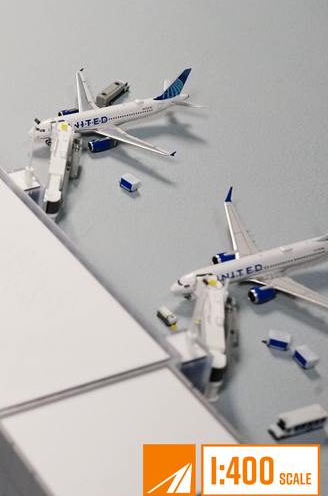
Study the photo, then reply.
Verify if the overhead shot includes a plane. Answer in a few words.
Yes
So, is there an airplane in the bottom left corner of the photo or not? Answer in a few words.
No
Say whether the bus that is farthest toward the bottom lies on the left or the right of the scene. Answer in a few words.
right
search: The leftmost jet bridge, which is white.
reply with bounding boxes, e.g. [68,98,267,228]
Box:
[43,119,82,228]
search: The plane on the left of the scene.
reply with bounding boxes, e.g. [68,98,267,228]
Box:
[27,67,211,156]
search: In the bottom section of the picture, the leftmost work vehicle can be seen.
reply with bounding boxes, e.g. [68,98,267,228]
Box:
[157,307,178,327]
